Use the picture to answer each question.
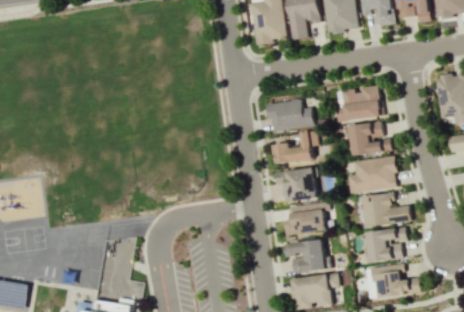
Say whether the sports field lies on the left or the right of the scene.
left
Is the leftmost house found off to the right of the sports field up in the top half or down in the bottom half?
top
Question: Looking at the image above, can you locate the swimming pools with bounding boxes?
[354,236,364,254]
[324,176,334,192]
